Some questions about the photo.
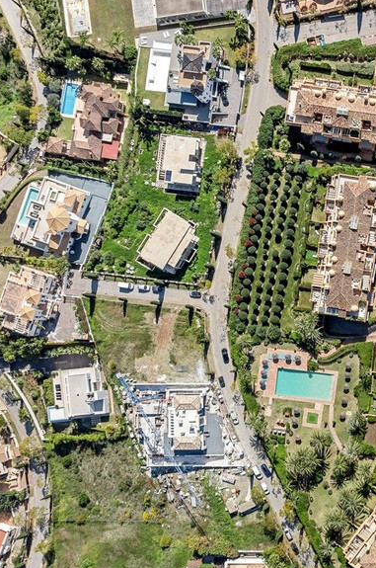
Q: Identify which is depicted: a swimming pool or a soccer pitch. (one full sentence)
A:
Looking from above, you can make out a swimming pool.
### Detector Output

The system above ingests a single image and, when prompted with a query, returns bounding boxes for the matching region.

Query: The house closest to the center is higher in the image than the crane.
[135,208,204,274]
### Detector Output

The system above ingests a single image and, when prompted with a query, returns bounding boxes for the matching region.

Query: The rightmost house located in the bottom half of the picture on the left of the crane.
[52,366,116,427]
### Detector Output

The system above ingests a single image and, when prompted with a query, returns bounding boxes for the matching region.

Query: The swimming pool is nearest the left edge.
[19,187,39,227]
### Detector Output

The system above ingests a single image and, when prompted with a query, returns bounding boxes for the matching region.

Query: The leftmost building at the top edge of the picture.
[65,0,96,40]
